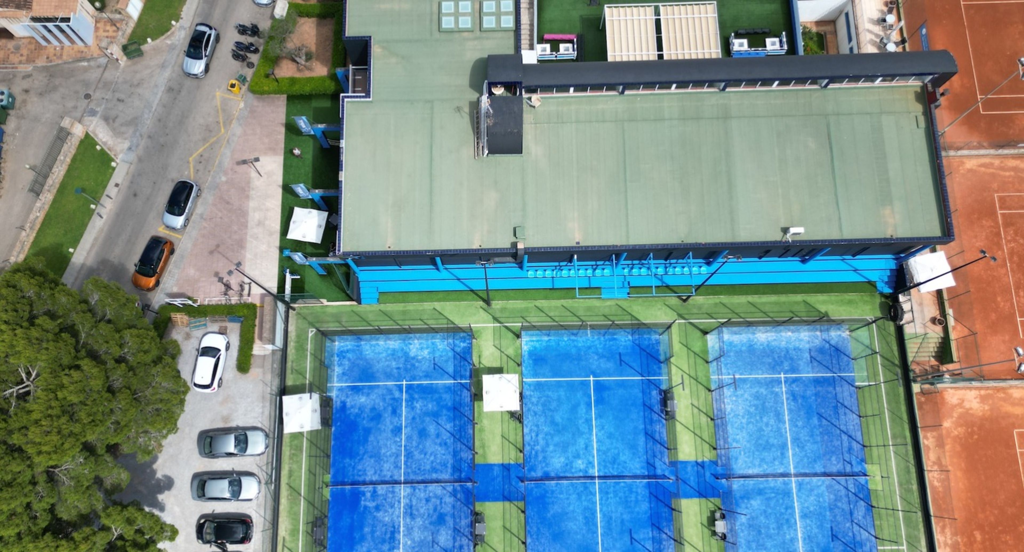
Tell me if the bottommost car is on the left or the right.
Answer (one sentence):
The bottommost car sits on the left side.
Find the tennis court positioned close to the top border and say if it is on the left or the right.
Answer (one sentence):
The tennis court positioned close to the top border appears in the right half of the scene.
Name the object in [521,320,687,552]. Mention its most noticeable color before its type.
blue sports court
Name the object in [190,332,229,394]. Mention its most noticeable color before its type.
white car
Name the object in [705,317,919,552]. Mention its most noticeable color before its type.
blue sports court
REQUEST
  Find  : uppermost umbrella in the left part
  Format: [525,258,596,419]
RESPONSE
[287,207,329,244]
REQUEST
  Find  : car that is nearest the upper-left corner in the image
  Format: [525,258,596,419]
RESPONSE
[181,23,218,77]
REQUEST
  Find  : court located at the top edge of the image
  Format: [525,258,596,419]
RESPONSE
[898,0,1024,133]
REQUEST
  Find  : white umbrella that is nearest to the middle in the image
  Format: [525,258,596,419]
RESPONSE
[483,374,519,411]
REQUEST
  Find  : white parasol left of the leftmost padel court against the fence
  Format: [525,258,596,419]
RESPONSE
[283,393,321,433]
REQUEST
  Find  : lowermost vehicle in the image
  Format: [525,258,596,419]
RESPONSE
[195,517,254,552]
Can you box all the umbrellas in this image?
[283,393,321,433]
[908,251,955,293]
[882,20,903,43]
[483,374,519,411]
[287,207,329,244]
